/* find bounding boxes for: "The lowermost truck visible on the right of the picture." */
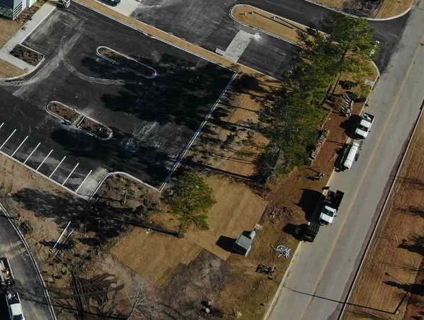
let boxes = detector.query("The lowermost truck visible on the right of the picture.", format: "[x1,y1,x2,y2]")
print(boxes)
[299,214,325,247]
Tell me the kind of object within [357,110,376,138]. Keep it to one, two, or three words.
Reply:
vehicle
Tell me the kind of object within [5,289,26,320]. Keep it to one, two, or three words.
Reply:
truck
